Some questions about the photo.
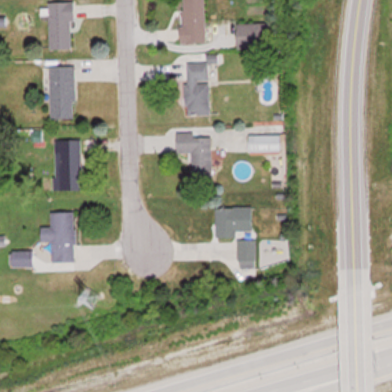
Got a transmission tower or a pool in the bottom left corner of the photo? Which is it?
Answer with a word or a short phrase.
transmission tower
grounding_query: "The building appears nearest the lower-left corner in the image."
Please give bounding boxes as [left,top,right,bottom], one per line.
[8,250,32,268]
